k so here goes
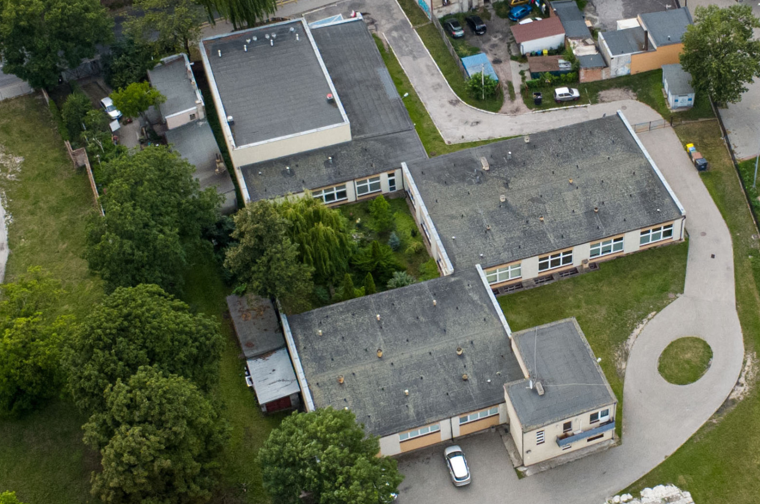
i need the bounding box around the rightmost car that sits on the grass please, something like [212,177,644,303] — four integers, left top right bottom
[552,87,581,104]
